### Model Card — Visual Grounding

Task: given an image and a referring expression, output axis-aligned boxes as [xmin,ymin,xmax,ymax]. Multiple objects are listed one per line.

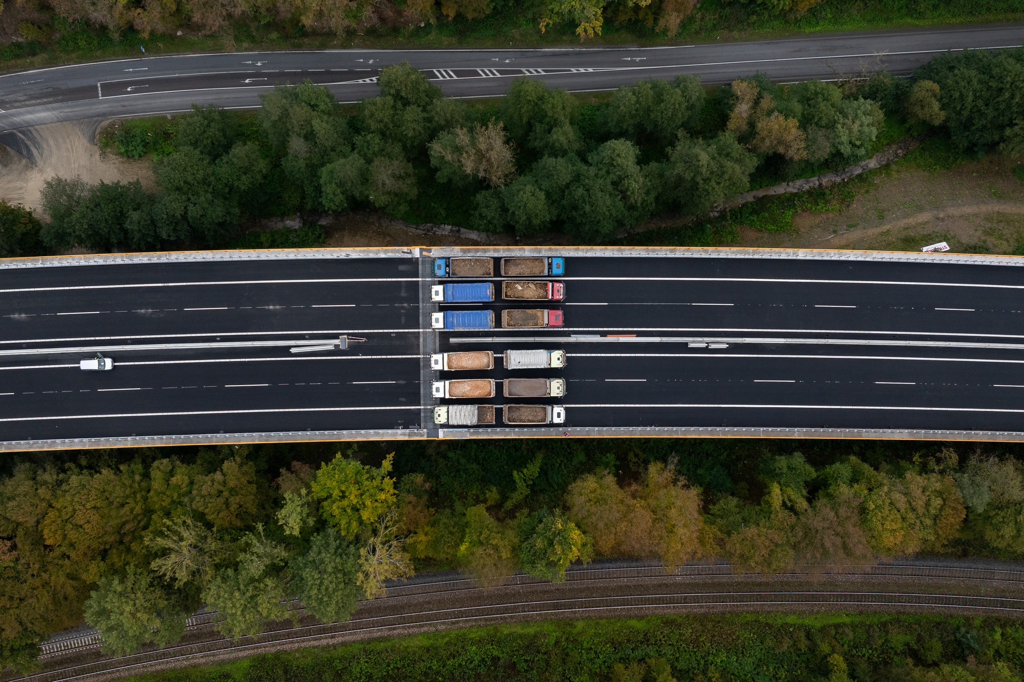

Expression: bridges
[0,247,1024,450]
